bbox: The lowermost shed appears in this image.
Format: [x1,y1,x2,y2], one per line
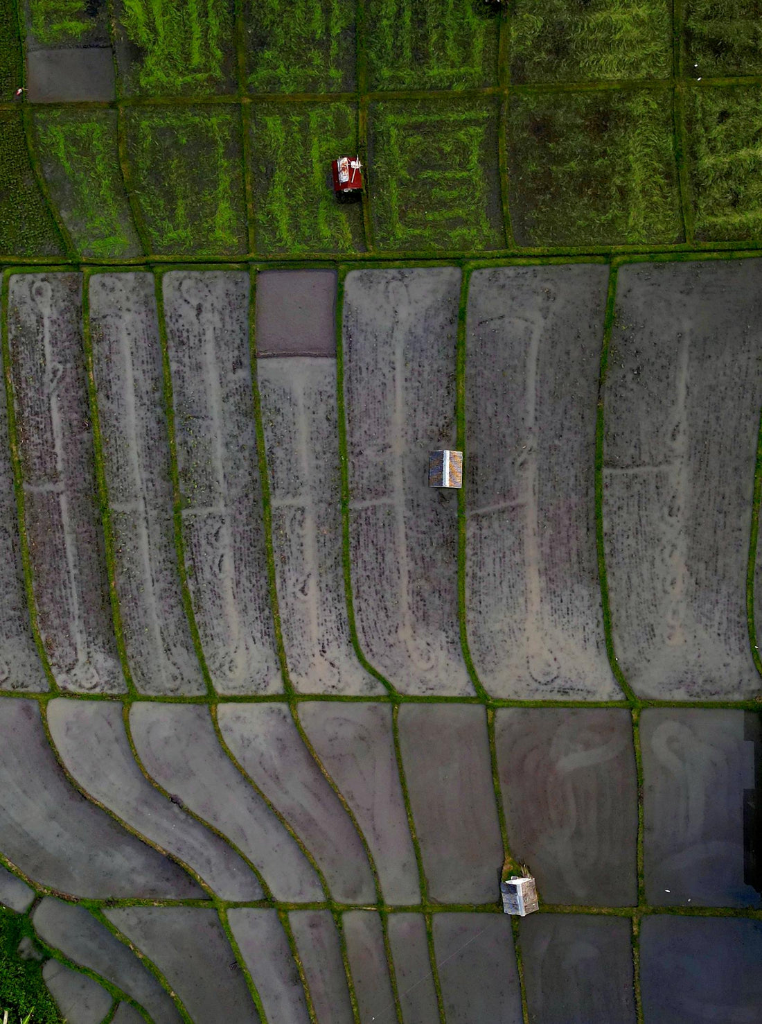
[499,876,539,917]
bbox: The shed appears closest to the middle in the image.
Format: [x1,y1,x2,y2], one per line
[428,450,463,489]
